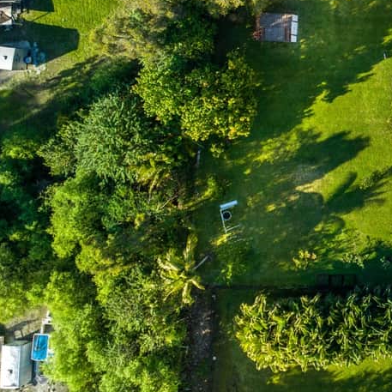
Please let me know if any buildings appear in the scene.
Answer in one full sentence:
Yes, there is a building in the image.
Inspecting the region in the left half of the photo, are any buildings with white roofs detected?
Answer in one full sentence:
Yes, a building with a white roof appears in the left half of the photo.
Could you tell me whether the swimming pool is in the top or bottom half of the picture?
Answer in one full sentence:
It is in the bottom half that the swimming pool appears.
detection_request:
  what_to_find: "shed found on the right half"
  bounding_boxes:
[259,14,299,42]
